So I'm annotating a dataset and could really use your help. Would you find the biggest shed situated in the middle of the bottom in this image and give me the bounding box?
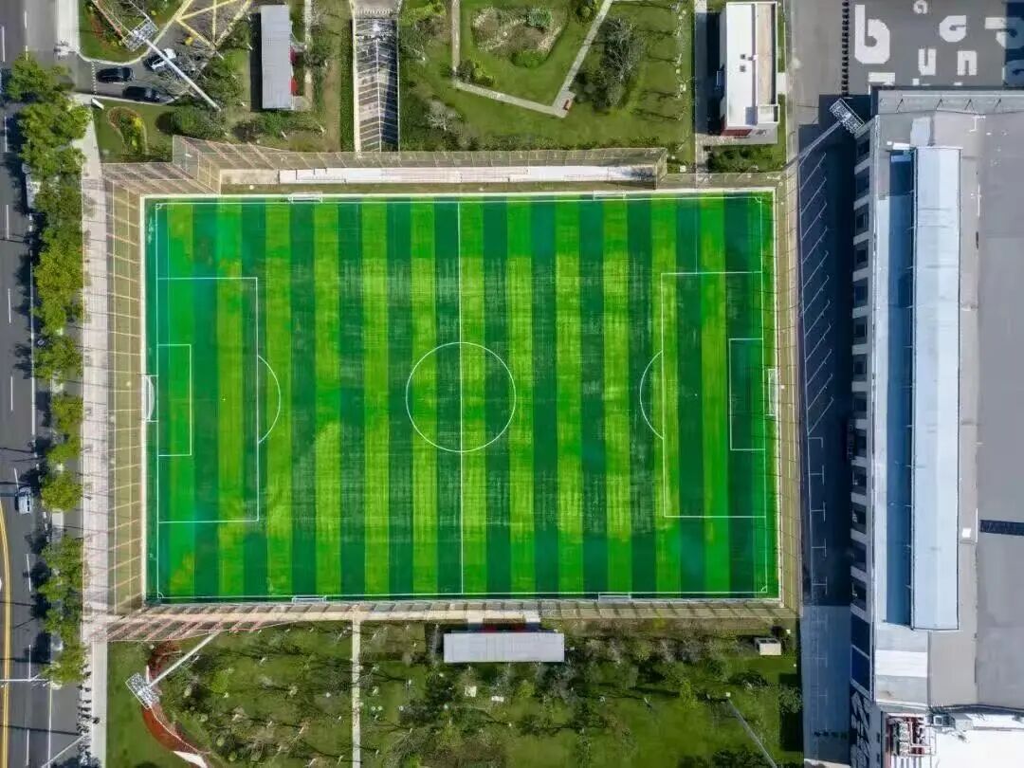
[444,627,564,662]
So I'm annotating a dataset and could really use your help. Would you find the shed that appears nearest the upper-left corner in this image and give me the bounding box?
[260,6,296,115]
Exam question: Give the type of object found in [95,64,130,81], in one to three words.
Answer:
car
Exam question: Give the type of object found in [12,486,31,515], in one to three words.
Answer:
car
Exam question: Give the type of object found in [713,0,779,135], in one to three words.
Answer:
building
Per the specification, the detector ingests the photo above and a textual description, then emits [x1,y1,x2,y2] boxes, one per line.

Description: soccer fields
[140,187,782,607]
